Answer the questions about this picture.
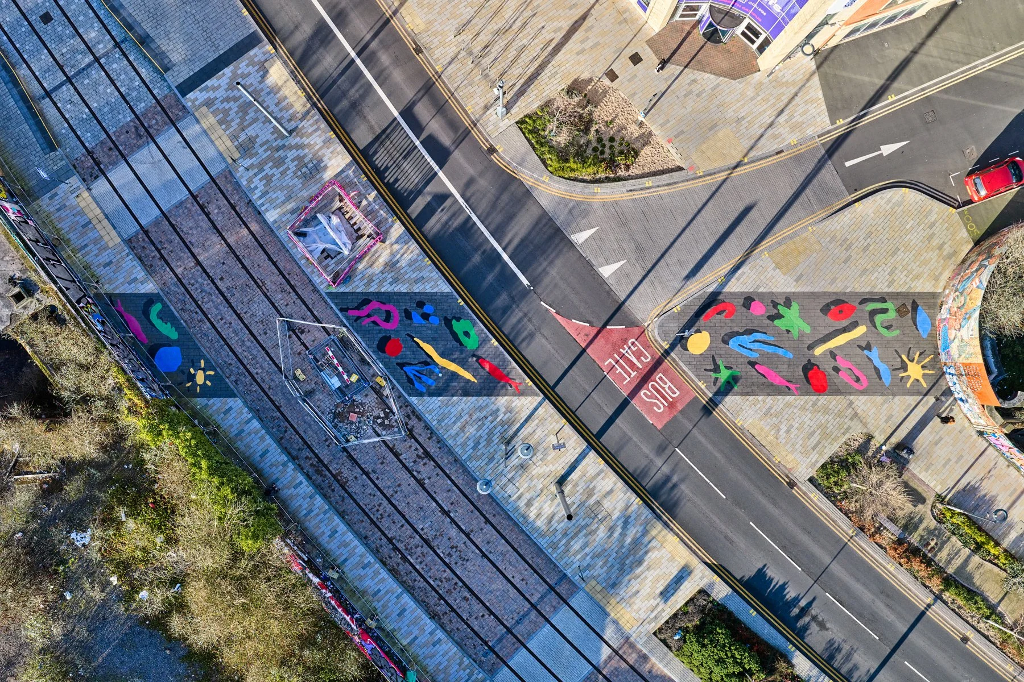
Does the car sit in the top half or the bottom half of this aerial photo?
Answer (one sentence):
The top half of the photo is where the car is.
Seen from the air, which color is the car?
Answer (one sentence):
The car looks red in the image.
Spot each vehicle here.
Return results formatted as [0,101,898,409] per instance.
[969,152,1024,201]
